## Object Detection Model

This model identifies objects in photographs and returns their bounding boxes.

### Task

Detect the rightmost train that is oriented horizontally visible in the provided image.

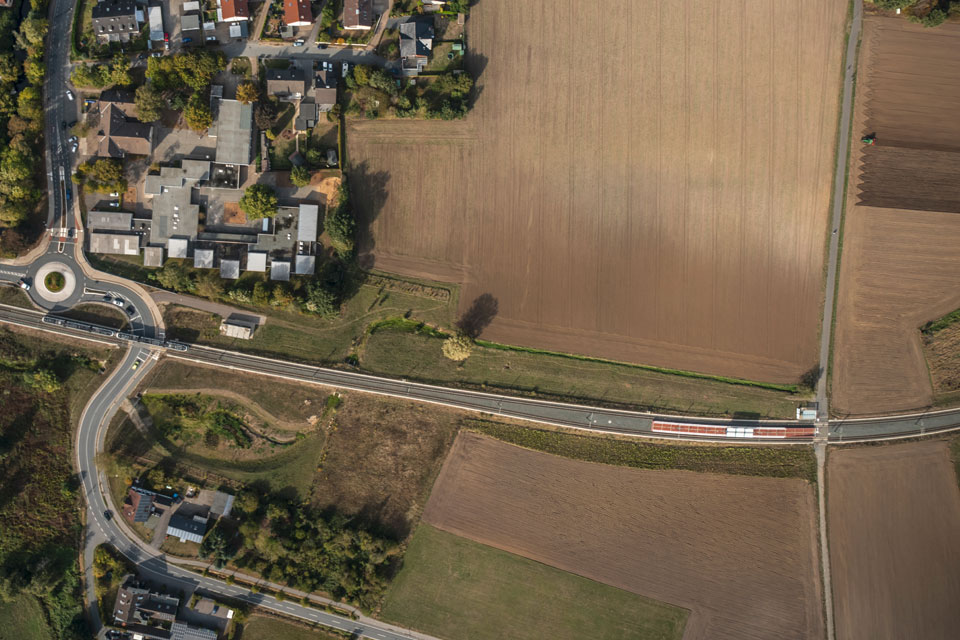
[116,331,188,350]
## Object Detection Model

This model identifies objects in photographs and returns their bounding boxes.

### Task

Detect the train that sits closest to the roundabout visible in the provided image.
[42,315,113,335]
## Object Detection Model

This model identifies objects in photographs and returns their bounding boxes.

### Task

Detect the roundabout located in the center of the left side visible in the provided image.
[24,250,87,314]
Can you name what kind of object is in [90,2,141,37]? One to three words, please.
house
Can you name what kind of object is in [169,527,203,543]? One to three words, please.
solar array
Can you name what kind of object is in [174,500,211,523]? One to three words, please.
building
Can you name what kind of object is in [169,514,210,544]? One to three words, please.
barn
